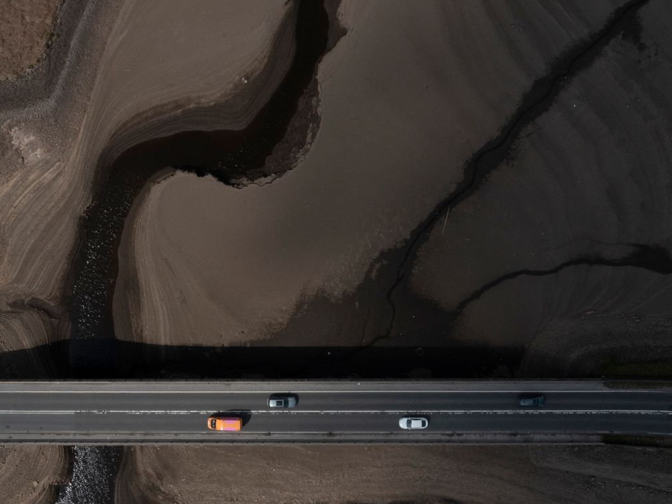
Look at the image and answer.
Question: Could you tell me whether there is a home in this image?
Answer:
No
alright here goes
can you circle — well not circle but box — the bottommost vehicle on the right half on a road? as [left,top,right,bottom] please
[398,417,427,430]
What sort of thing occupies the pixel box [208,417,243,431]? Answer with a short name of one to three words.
vehicle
